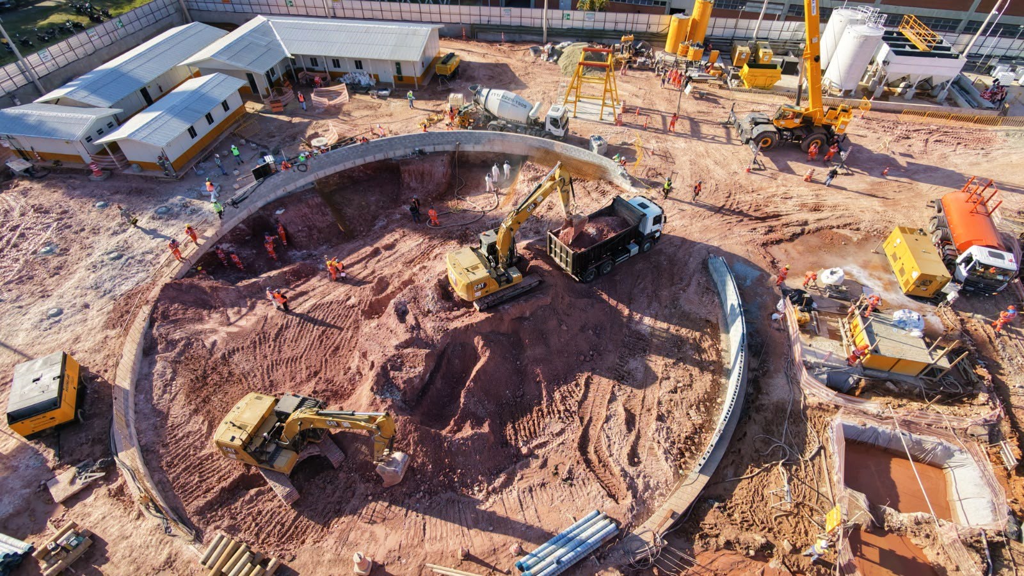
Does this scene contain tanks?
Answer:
Yes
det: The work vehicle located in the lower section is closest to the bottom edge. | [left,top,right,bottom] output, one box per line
[217,392,421,500]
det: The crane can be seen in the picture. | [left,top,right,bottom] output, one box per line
[730,0,842,170]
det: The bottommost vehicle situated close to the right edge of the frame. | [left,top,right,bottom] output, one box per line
[926,182,1024,311]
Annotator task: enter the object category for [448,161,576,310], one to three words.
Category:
work vehicle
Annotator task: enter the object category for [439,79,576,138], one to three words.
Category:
truck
